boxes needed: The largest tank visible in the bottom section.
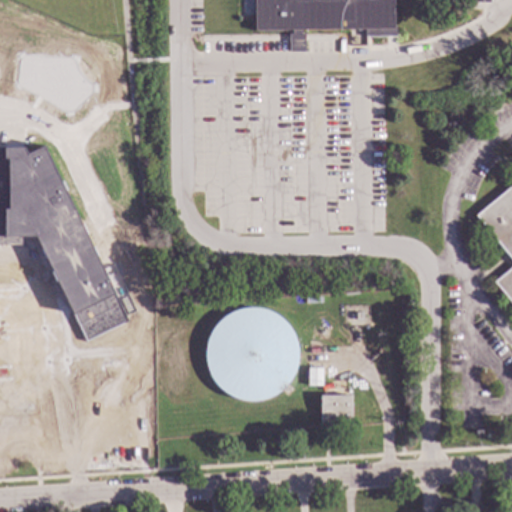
[208,308,300,400]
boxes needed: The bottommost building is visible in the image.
[322,394,354,420]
